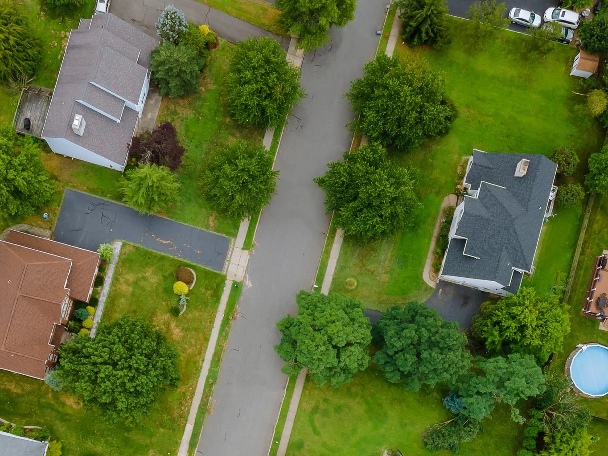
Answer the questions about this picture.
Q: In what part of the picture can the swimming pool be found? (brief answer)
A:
bottom right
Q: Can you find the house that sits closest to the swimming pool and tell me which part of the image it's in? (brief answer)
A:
right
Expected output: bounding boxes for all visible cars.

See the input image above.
[542,9,581,32]
[537,26,574,47]
[506,8,539,32]
[94,0,111,13]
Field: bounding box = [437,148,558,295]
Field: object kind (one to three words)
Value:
house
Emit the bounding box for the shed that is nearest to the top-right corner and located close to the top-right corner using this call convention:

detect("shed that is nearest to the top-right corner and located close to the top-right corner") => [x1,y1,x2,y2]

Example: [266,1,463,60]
[570,50,601,79]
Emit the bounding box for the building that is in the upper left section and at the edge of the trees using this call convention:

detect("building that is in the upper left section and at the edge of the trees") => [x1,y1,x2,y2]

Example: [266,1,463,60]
[41,11,162,171]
